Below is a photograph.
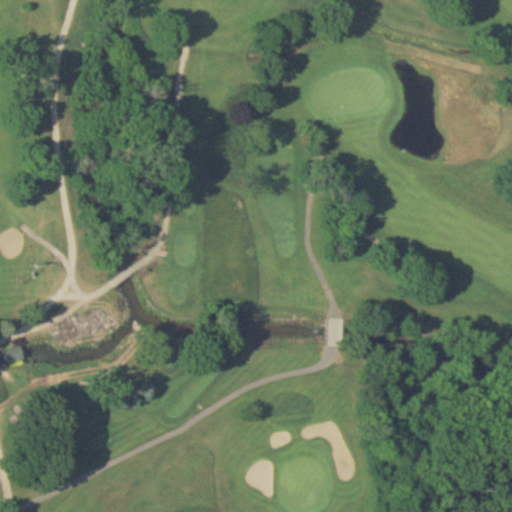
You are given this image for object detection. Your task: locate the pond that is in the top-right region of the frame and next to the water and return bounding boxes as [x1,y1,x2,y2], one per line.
[390,60,443,158]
